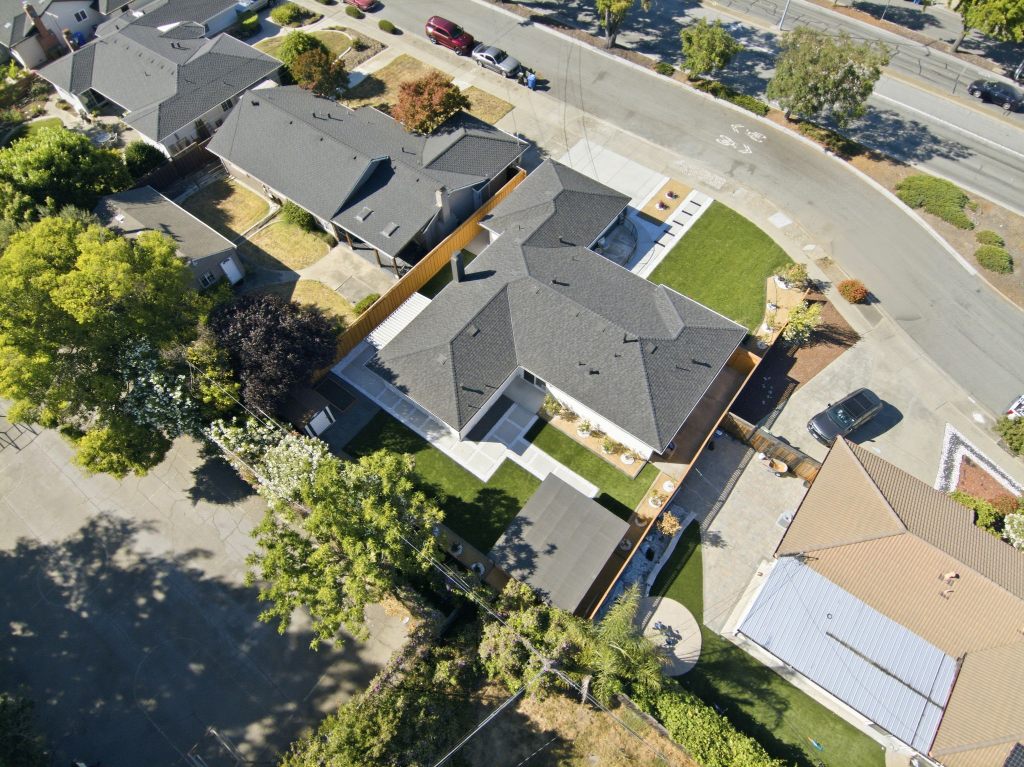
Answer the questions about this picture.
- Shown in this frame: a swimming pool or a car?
car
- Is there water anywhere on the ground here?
No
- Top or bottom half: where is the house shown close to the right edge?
bottom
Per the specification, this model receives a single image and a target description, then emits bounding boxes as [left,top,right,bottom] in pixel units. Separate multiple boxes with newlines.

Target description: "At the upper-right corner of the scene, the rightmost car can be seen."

[965,75,1024,111]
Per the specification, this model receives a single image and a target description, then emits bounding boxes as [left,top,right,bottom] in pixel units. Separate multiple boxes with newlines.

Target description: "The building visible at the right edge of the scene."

[770,435,1024,767]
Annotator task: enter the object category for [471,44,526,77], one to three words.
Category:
car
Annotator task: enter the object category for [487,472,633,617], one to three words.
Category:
building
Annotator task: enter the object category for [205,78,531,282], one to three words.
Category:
house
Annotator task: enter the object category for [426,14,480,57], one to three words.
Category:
car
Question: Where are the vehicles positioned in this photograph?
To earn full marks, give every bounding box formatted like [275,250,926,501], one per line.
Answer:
[337,0,379,13]
[1001,400,1024,421]
[965,75,1024,111]
[234,0,280,15]
[426,14,480,57]
[471,44,526,77]
[801,388,889,443]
